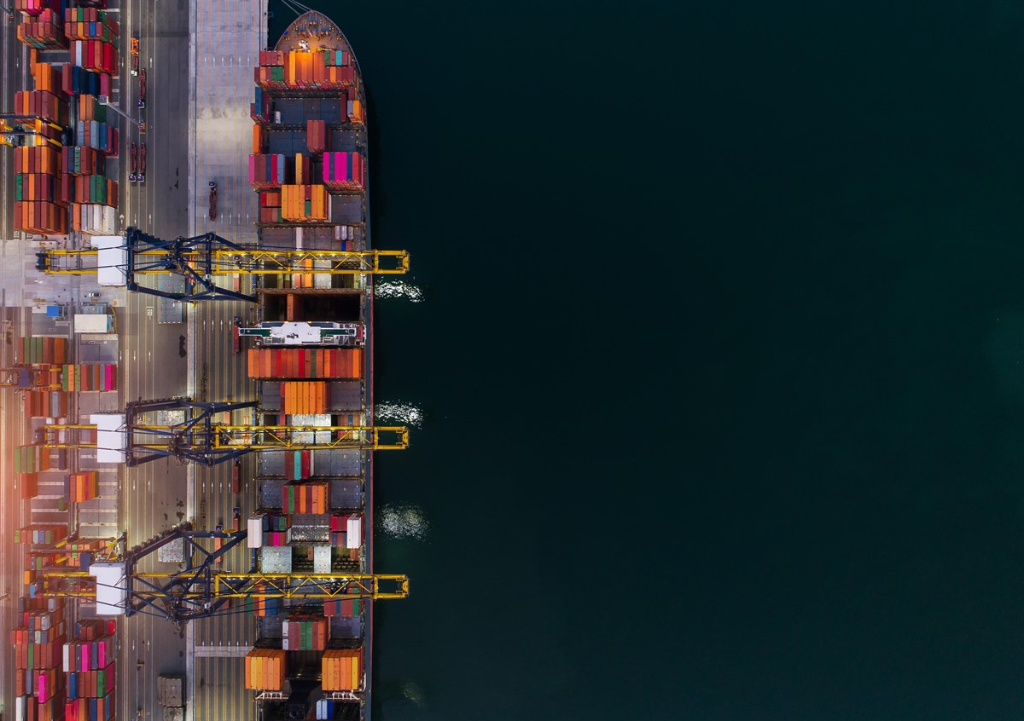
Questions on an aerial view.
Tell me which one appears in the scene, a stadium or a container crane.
container crane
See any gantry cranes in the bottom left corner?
Yes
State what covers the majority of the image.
water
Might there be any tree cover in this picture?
No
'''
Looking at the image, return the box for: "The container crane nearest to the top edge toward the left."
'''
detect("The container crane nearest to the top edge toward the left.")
[0,114,44,150]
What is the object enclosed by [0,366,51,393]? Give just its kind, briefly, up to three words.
container crane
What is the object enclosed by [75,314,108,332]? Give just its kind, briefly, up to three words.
shed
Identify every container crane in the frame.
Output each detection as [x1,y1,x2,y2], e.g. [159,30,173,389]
[36,391,410,468]
[41,537,120,570]
[0,114,44,150]
[36,516,410,626]
[36,221,410,312]
[0,366,51,393]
